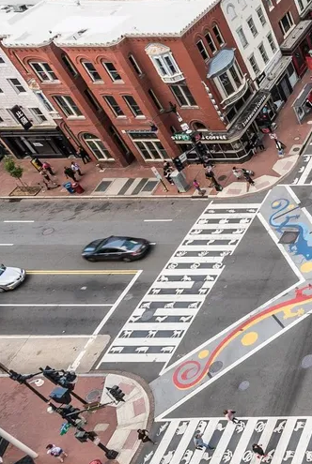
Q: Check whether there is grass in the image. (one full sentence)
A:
No, there is no grass in the image.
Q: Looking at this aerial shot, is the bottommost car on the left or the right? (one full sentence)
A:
The bottommost car is on the left side of the image.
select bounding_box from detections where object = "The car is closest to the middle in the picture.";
[78,233,157,262]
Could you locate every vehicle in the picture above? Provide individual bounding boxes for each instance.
[78,233,157,262]
[0,262,32,293]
